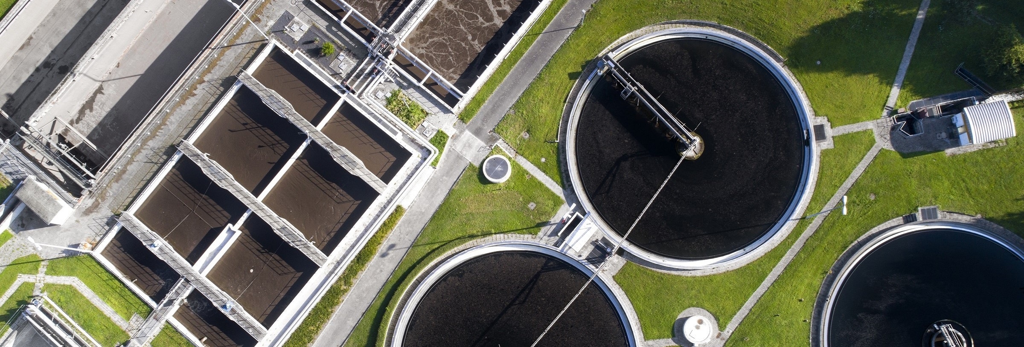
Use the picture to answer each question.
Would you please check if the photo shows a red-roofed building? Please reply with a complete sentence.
No, no red-roofed building is visible in the scene.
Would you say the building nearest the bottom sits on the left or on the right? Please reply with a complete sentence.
The building nearest the bottom sits on the left side.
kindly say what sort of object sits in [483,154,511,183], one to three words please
storage tank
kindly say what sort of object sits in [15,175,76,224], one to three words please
building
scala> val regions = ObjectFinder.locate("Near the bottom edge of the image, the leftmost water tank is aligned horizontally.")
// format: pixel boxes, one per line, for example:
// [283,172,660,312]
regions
[390,239,641,347]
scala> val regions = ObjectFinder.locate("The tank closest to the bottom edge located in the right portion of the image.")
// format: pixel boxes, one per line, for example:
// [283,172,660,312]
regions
[682,316,713,347]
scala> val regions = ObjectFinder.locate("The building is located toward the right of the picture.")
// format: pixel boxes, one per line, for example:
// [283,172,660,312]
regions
[953,100,1015,148]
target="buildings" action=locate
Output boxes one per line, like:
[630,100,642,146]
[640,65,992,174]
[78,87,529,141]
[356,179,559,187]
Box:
[15,175,76,224]
[953,100,1015,148]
